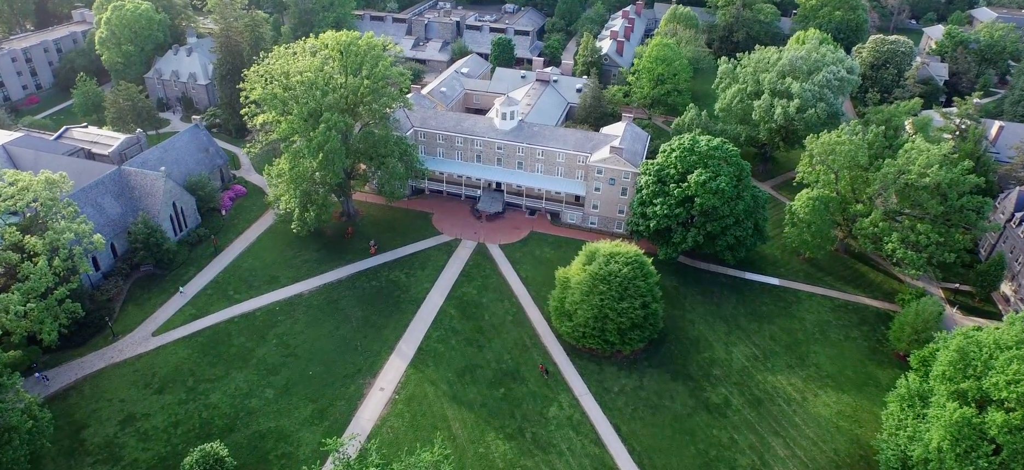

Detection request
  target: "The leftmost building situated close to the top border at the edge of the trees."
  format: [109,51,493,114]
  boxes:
[0,7,100,107]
